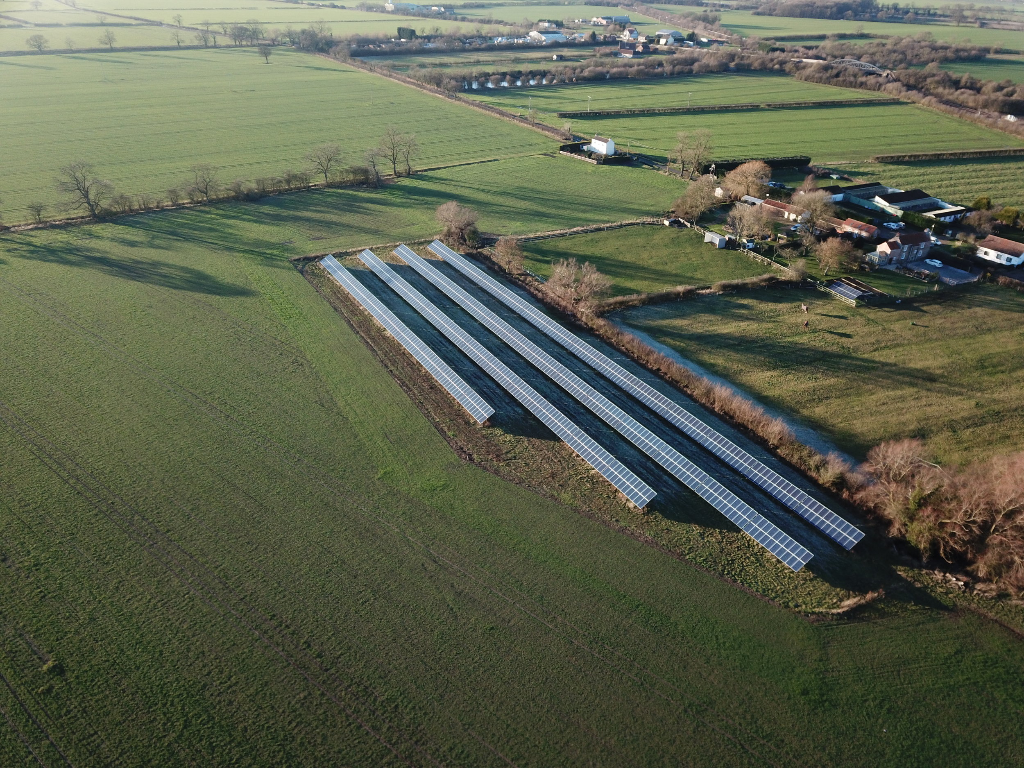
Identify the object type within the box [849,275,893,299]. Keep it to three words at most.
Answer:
shed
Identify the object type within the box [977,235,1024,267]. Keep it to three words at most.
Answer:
house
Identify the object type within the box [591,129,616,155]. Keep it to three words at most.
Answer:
house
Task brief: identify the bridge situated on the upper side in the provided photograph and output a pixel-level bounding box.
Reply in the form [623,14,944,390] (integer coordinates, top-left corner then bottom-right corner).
[817,56,883,78]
